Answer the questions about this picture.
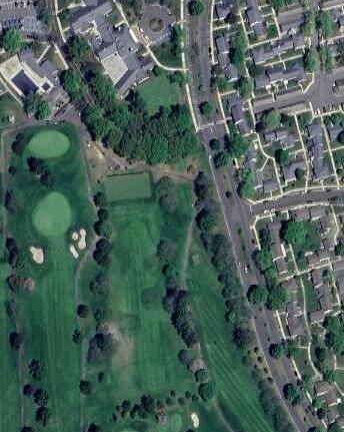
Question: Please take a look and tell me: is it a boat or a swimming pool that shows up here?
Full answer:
It is a swimming pool that can be seen here.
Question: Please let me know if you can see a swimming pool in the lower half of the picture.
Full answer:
No, I see no swimming pool in the lower half of the picture.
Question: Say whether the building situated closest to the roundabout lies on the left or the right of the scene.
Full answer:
The building situated closest to the roundabout sits on the left side.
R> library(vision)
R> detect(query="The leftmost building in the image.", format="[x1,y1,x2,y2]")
[17,45,60,87]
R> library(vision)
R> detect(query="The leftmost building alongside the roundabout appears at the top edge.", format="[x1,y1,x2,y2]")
[69,0,144,87]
